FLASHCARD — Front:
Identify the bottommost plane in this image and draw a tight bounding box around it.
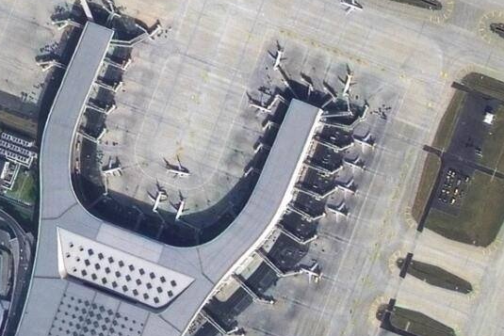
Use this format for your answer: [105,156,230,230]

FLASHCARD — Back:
[302,263,324,284]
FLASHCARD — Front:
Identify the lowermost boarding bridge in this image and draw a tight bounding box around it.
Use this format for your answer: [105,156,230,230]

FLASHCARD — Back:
[201,312,245,336]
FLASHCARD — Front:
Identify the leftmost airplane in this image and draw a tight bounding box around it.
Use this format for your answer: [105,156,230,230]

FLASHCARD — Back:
[103,158,123,179]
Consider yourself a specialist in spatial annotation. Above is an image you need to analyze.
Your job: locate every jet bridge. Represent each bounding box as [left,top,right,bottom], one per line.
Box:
[254,144,271,153]
[95,176,109,214]
[321,95,352,118]
[51,21,82,31]
[276,71,298,97]
[288,205,327,221]
[322,106,368,129]
[100,0,122,24]
[113,23,164,47]
[278,226,319,244]
[304,163,344,177]
[106,59,132,71]
[79,131,108,143]
[87,105,117,115]
[97,81,123,92]
[233,276,275,303]
[201,312,245,336]
[315,140,355,153]
[297,184,337,199]
[256,251,302,275]
[269,94,289,111]
[37,62,65,72]
[320,88,339,109]
[301,77,312,103]
[244,167,259,176]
